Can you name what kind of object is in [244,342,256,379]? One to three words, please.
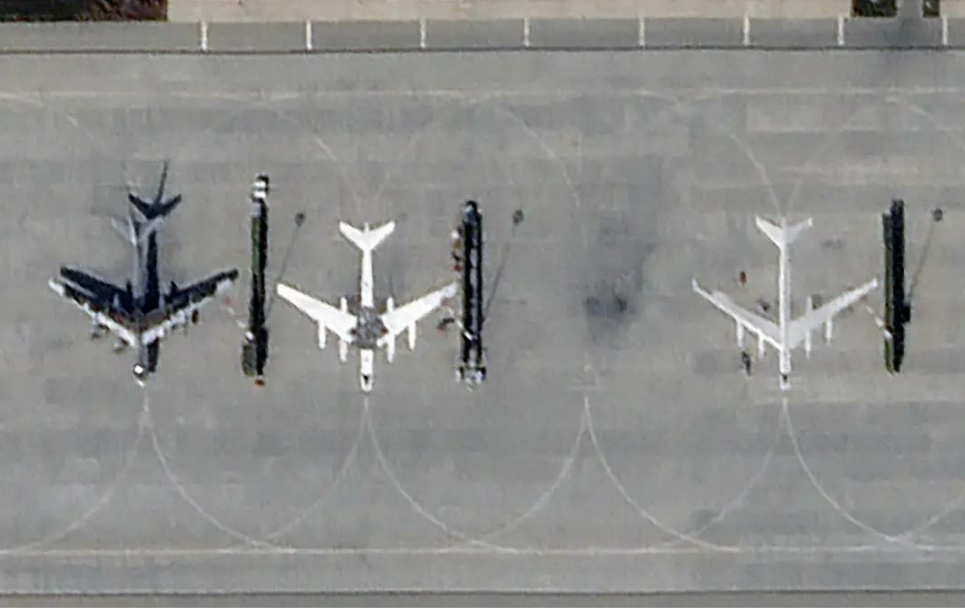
vehicle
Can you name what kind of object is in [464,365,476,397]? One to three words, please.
vehicle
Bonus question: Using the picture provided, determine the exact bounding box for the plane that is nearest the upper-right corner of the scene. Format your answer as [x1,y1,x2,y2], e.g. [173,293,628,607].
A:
[693,217,877,388]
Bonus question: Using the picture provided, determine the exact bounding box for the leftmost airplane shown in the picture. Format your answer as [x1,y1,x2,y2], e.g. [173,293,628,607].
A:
[50,200,230,386]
